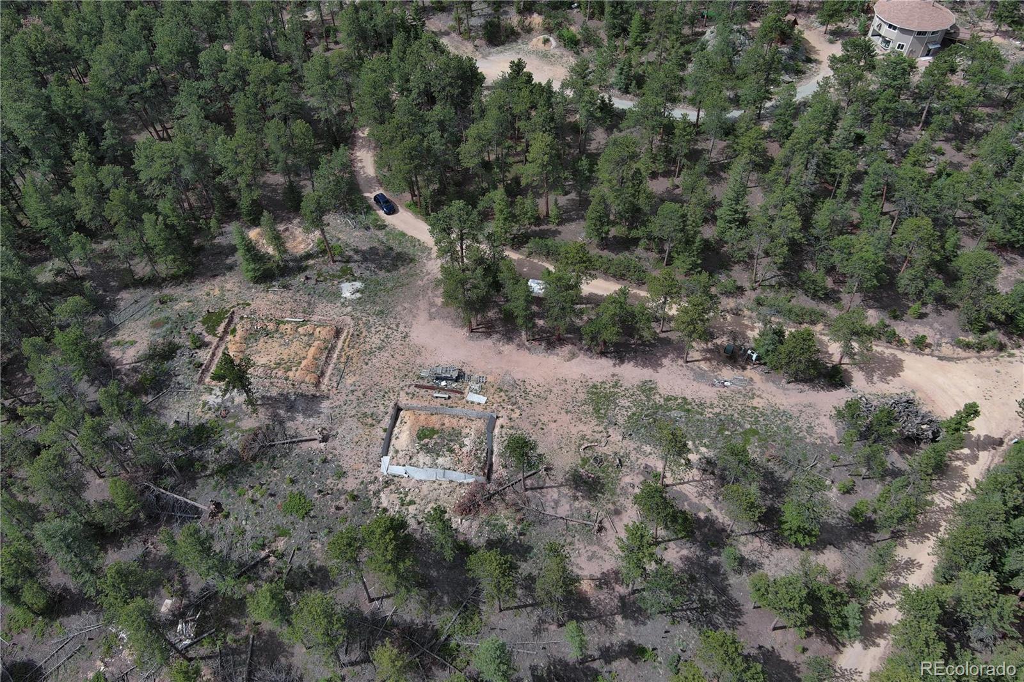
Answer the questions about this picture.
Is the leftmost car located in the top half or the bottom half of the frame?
top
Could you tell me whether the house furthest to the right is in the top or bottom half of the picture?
top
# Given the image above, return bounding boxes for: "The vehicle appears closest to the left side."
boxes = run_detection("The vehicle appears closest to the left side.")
[372,189,395,213]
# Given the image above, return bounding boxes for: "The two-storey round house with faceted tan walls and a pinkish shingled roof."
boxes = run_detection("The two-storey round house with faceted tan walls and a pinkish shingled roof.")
[870,0,974,60]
